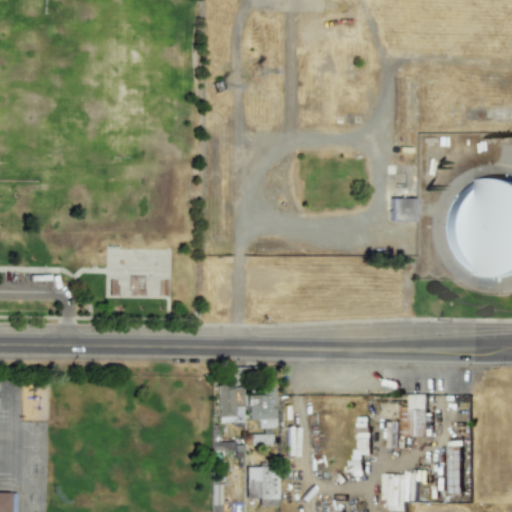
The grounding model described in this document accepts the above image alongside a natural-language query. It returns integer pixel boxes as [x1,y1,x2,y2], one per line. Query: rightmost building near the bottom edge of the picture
[443,447,462,497]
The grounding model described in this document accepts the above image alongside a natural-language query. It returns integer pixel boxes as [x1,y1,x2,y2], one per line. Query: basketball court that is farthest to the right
[22,422,47,512]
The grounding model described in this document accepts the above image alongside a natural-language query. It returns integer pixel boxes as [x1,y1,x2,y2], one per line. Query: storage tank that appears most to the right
[446,177,512,279]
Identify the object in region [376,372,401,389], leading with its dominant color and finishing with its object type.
white vehicle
